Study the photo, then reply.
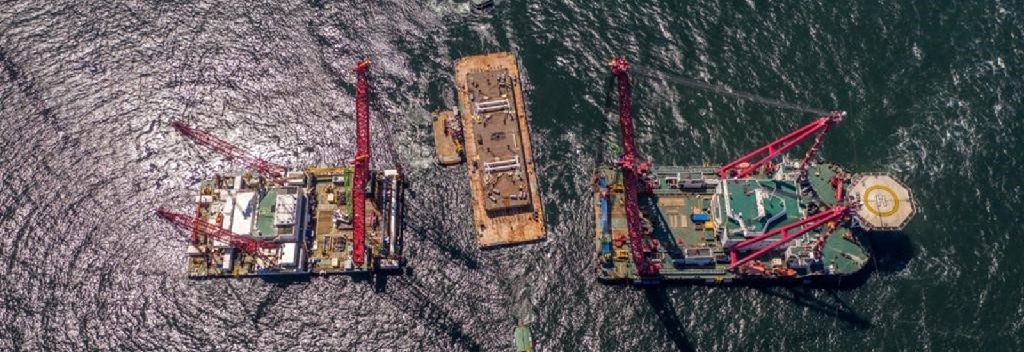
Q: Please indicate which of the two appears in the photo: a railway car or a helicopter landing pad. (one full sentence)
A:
I can see a helicopter landing pad in this picture.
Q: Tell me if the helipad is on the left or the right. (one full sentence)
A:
The helipad appears in the right half of the scene.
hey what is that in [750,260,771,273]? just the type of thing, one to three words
boat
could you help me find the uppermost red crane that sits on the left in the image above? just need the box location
[169,55,402,193]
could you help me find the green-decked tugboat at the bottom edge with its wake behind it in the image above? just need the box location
[512,325,535,352]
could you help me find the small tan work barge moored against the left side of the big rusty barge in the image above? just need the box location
[433,106,466,168]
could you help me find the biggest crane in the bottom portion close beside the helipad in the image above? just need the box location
[592,157,852,283]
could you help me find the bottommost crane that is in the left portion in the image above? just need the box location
[154,146,403,279]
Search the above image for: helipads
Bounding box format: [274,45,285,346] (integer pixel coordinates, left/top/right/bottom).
[830,171,917,235]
